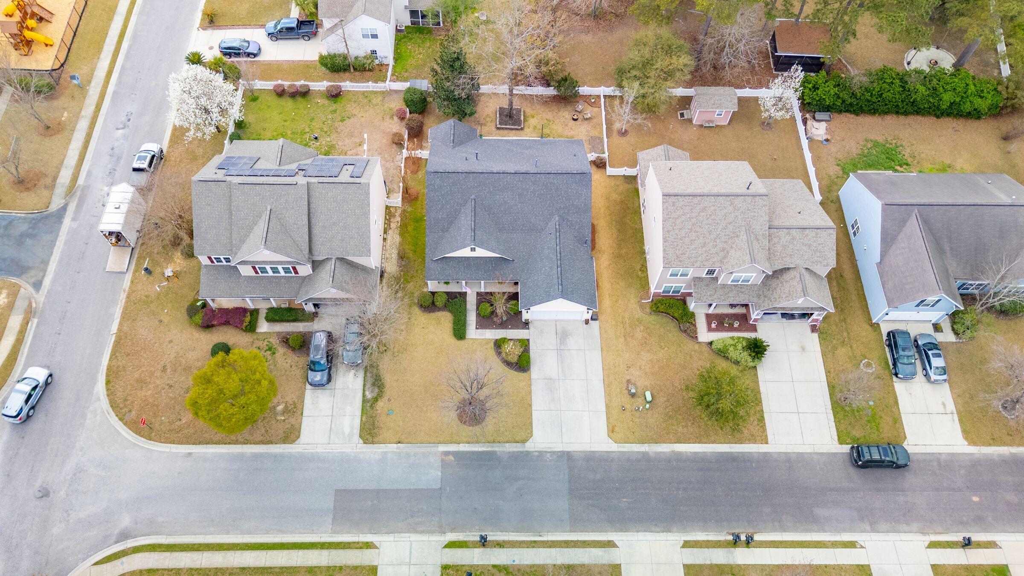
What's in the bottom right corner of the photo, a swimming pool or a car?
car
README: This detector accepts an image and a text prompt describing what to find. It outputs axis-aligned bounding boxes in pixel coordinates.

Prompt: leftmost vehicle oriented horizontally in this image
[219,36,264,57]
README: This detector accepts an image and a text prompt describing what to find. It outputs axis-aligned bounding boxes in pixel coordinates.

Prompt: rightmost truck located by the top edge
[265,16,321,40]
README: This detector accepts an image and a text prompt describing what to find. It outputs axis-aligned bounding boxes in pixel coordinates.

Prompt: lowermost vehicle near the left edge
[1,369,51,426]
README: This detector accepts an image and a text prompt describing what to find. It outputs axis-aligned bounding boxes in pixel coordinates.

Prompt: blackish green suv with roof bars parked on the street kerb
[846,442,911,472]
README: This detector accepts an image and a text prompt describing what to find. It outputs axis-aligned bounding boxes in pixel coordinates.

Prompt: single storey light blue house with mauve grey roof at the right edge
[835,172,1024,323]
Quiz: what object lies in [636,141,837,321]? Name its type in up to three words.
house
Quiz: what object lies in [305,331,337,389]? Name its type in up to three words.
car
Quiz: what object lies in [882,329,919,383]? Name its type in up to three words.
car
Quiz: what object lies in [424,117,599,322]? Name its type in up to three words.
house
